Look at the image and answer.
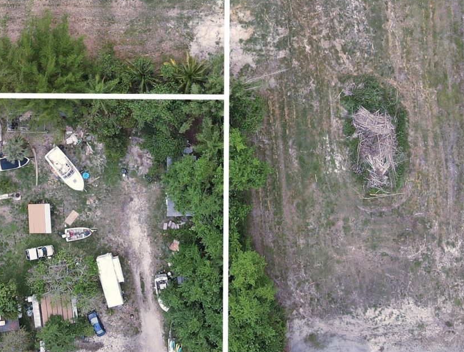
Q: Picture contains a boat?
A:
Yes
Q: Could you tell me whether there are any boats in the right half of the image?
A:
No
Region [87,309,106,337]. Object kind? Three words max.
car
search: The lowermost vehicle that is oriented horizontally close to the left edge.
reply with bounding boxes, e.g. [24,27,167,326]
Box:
[22,244,57,260]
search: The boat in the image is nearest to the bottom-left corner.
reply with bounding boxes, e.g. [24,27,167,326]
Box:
[61,229,99,242]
